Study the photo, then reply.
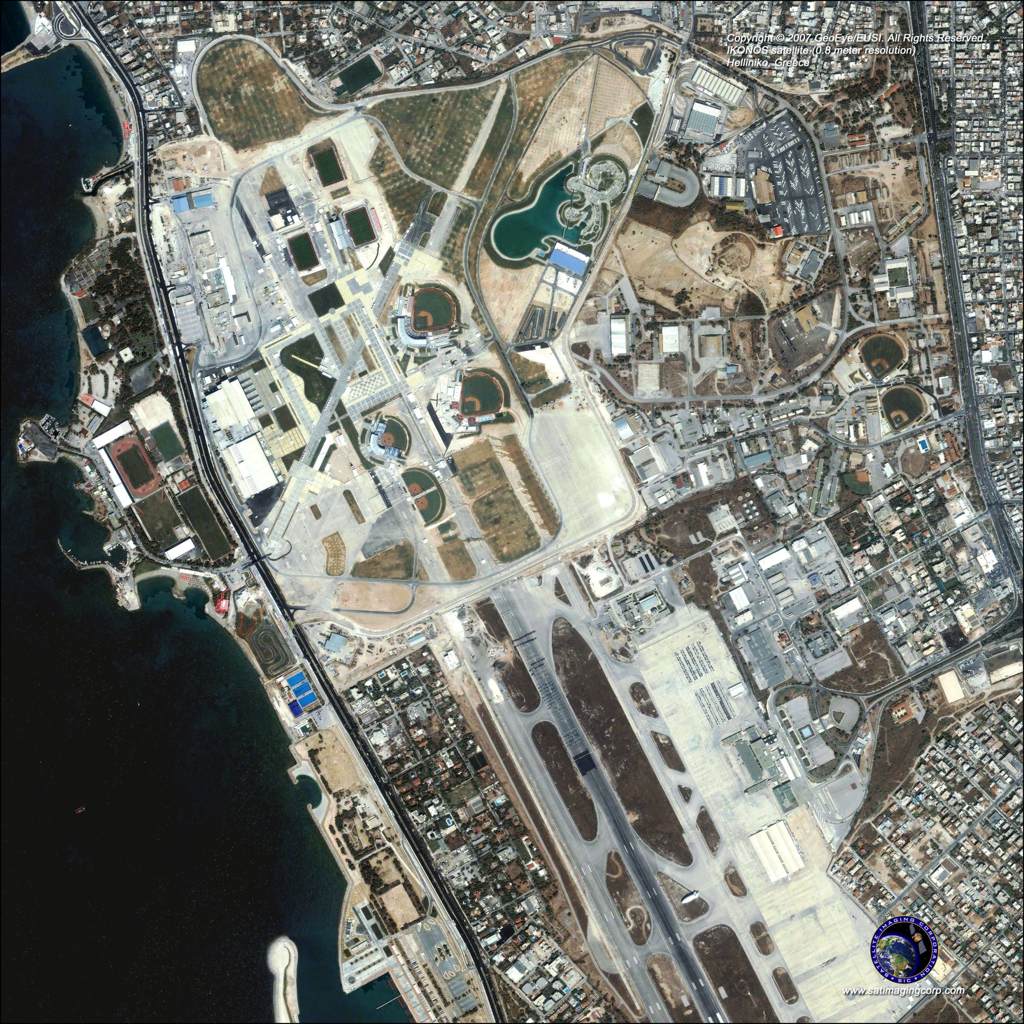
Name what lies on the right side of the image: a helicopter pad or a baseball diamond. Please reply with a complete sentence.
Visible on the right side of the image is a baseball diamond.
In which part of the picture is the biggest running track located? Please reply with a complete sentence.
The biggest running track sits in the left section of the image.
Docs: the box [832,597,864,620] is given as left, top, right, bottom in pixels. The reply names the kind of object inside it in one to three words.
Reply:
building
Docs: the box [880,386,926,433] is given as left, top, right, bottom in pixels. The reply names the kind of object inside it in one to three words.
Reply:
baseball field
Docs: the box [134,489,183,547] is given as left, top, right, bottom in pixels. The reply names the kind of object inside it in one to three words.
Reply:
soccer field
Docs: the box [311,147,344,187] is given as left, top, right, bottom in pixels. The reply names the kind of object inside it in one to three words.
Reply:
sports field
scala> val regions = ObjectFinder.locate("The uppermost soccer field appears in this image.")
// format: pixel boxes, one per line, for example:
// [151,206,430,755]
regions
[329,53,384,99]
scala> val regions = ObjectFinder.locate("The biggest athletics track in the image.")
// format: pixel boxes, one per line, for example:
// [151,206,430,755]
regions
[109,437,160,496]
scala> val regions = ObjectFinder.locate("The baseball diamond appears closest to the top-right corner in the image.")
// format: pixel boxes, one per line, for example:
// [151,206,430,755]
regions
[859,333,907,381]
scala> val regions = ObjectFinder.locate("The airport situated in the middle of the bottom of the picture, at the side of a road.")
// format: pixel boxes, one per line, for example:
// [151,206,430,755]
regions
[493,588,727,1024]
